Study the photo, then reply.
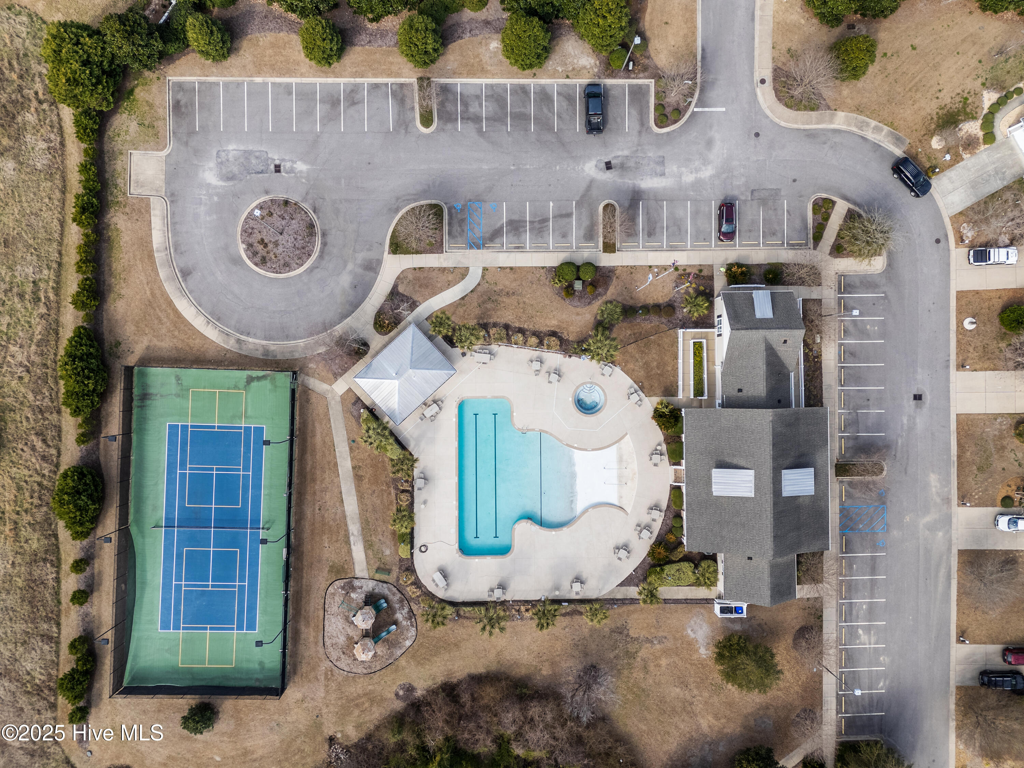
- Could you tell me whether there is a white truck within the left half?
No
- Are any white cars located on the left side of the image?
No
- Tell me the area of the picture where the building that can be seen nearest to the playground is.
center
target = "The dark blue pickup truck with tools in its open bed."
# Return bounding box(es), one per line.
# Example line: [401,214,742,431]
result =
[583,84,605,139]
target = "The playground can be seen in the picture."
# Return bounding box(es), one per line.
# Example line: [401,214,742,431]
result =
[340,595,396,658]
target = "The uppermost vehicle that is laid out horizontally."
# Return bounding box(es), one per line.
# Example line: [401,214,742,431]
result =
[965,245,1018,267]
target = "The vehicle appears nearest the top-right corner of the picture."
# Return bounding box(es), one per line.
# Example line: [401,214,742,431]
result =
[890,158,929,199]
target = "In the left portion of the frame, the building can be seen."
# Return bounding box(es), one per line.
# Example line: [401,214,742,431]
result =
[353,323,457,426]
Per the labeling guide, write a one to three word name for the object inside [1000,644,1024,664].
car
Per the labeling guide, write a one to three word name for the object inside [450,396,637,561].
swimming pool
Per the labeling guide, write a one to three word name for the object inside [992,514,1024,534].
car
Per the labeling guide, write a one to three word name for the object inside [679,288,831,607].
building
